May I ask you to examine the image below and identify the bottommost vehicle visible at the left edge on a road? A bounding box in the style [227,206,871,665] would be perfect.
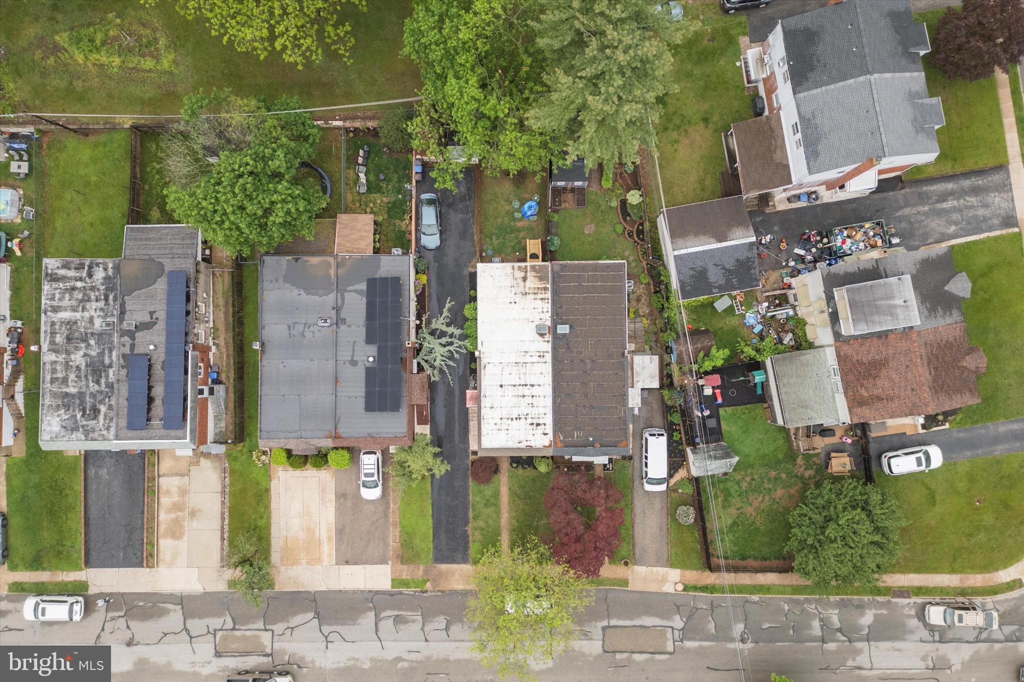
[24,596,83,627]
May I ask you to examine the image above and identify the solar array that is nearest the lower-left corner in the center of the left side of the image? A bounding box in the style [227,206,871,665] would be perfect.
[127,356,149,429]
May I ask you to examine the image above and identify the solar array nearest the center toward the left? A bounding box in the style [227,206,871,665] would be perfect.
[366,277,401,412]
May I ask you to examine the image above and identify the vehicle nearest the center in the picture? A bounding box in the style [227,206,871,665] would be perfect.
[414,192,441,248]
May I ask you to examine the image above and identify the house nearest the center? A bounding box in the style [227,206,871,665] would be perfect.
[466,260,658,465]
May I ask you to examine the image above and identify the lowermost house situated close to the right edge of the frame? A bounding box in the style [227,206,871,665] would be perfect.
[763,247,987,447]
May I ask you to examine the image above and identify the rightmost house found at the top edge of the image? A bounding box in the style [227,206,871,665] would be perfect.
[723,0,946,210]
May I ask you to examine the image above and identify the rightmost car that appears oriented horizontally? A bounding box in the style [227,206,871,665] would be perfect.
[930,604,1008,634]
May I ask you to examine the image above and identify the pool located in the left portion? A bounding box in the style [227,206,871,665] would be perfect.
[0,184,27,219]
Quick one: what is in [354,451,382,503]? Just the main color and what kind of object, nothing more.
white car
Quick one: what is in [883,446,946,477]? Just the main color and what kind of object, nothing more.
white car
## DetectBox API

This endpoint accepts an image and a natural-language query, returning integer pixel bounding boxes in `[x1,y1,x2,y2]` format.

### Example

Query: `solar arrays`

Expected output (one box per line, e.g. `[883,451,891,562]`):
[127,356,149,429]
[162,271,187,429]
[366,277,401,412]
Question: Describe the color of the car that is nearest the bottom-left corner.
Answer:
white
